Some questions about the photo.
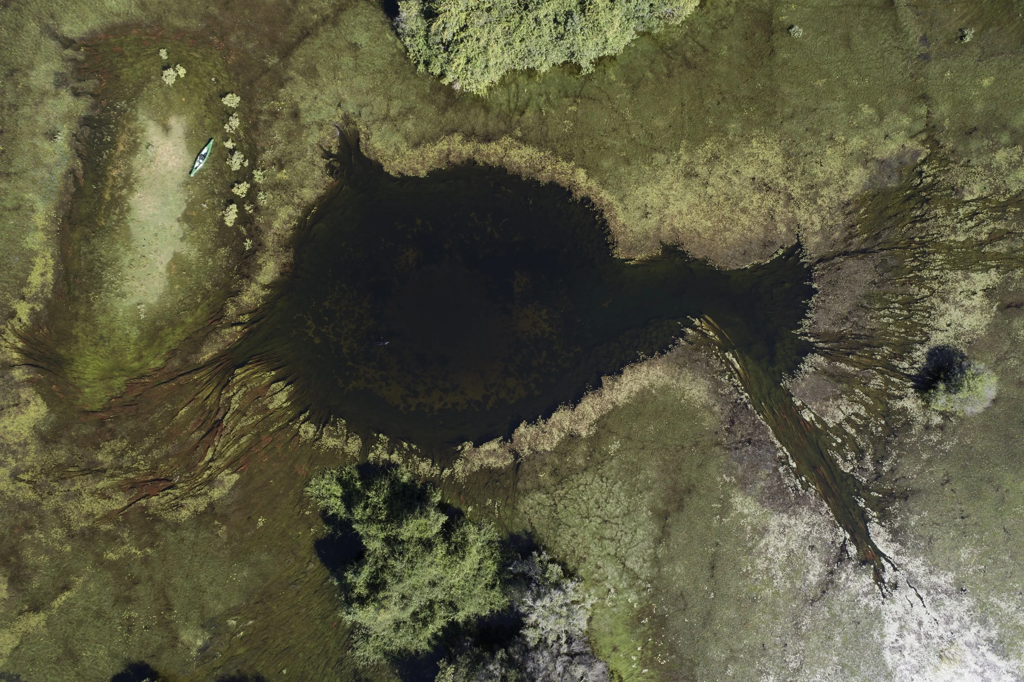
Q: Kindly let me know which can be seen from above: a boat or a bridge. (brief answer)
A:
boat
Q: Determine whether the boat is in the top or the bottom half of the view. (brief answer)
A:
top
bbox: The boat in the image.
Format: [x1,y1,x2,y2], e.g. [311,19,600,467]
[189,137,213,176]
